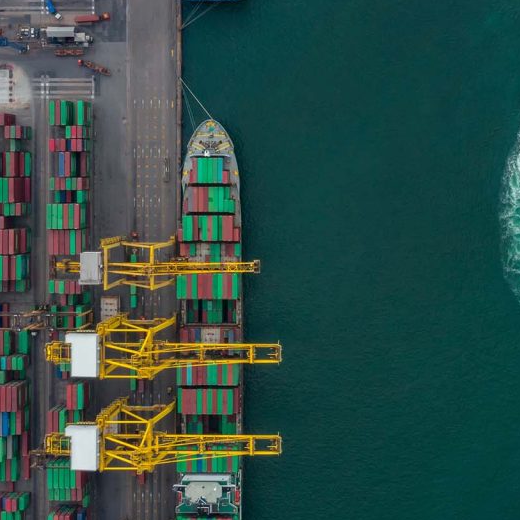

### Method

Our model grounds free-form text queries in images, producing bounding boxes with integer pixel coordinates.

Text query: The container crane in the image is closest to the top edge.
[49,234,263,291]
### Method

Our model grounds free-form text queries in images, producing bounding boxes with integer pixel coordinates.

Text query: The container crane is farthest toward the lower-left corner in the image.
[28,437,72,468]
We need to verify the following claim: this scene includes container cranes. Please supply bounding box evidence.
[45,310,282,381]
[46,393,282,473]
[28,437,72,468]
[49,234,263,291]
[29,306,94,330]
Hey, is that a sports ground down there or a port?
port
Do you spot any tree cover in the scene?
No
